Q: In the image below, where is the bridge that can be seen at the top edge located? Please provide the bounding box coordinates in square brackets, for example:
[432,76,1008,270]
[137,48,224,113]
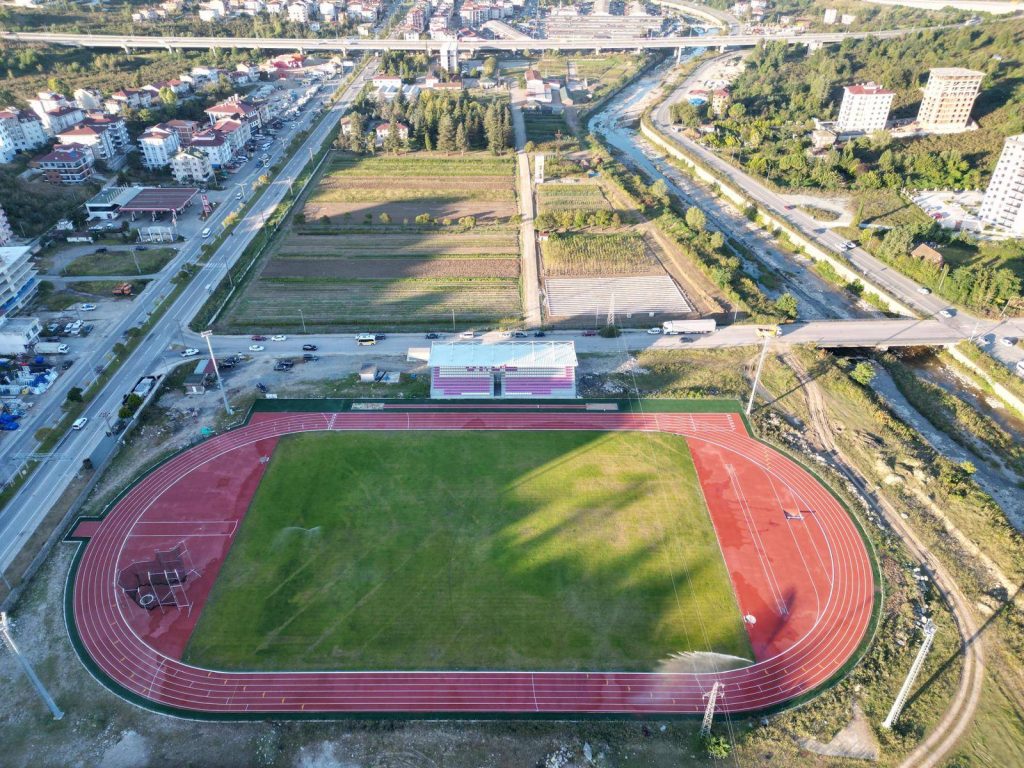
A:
[0,10,1009,62]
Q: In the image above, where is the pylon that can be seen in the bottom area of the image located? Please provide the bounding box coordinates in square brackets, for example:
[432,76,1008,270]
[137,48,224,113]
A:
[699,685,726,730]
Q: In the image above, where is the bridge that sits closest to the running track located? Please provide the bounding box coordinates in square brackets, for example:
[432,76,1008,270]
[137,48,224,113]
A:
[785,315,977,353]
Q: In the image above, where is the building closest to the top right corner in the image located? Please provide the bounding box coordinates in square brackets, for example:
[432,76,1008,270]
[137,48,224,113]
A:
[910,66,987,127]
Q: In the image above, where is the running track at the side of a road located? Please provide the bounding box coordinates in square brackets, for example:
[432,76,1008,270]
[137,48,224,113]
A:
[73,412,874,712]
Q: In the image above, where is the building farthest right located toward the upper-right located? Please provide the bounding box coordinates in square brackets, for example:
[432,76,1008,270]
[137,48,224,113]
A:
[975,142,1024,239]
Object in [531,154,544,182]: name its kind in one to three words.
shed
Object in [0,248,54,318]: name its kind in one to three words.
building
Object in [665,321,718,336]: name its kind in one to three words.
vehicle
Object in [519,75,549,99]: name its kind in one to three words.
house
